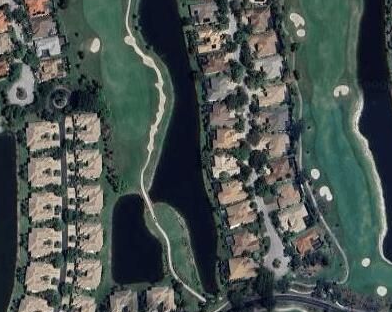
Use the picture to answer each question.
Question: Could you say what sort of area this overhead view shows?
residential area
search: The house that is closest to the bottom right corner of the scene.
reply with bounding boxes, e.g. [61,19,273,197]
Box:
[291,229,323,256]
